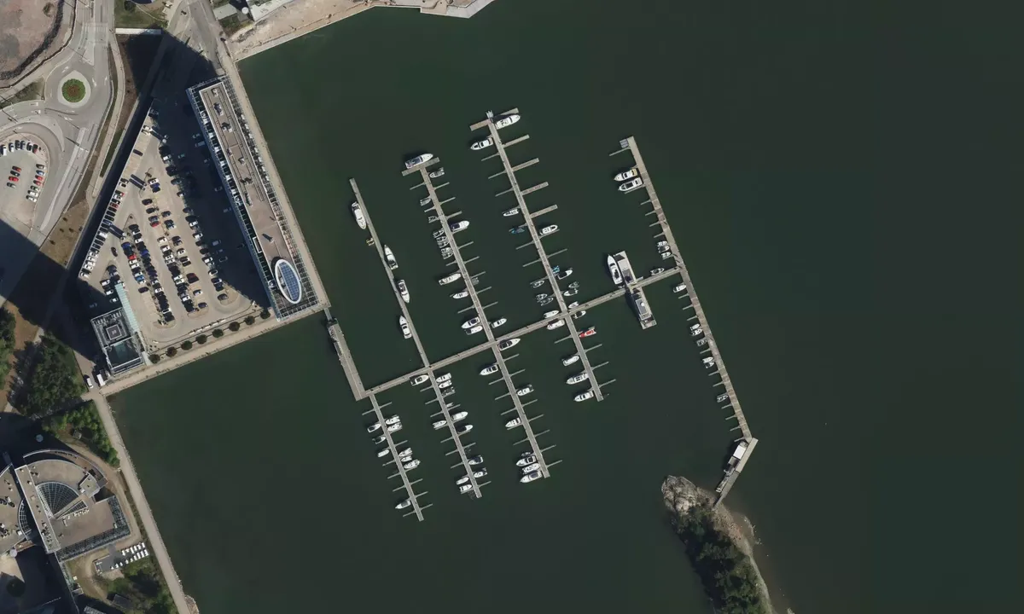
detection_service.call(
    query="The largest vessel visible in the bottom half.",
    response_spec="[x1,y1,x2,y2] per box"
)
[716,441,748,493]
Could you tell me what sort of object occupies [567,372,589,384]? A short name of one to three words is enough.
boat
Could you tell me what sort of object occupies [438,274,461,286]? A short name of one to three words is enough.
boat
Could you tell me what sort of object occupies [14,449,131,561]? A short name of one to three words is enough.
building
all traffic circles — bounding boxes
[57,69,90,104]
